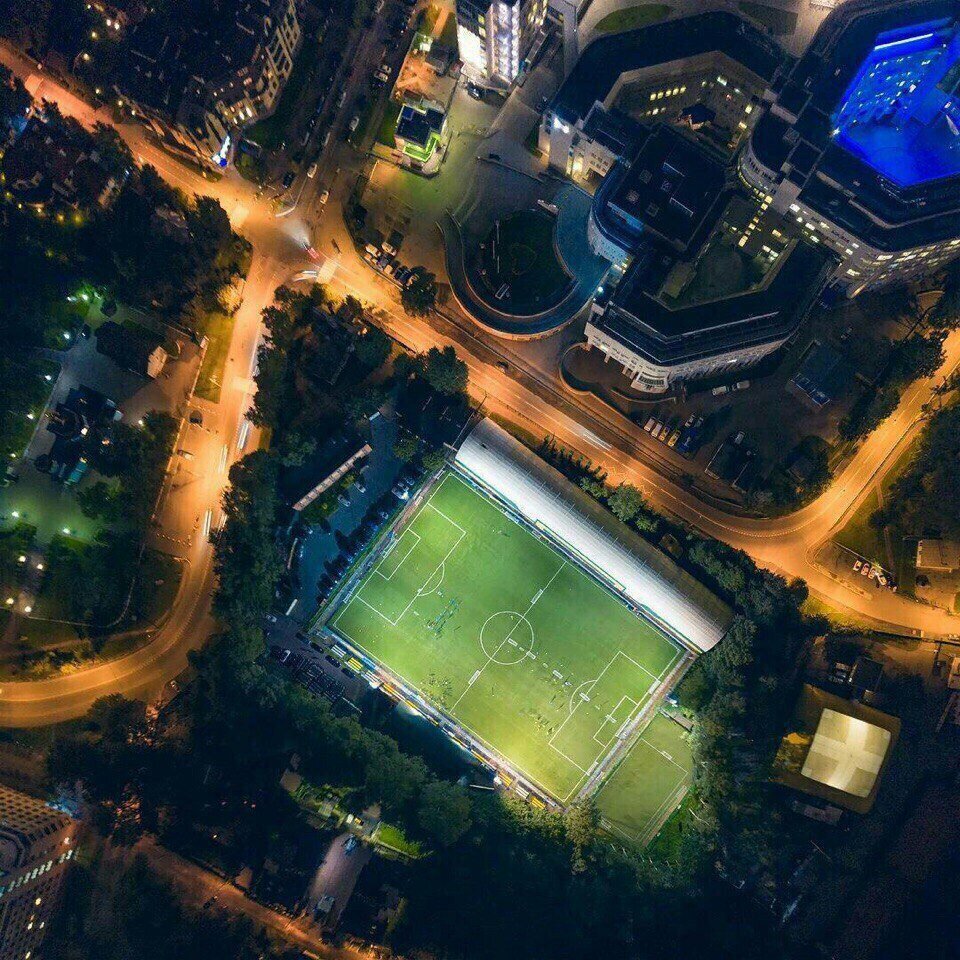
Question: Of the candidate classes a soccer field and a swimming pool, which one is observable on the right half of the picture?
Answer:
soccer field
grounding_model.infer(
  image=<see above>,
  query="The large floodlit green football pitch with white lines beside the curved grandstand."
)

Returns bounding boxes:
[303,448,716,832]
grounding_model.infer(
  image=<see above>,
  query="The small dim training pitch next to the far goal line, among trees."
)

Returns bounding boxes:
[594,712,699,848]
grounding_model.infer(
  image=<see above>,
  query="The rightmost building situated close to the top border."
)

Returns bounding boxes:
[726,0,960,286]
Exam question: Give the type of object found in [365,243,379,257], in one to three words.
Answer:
vehicle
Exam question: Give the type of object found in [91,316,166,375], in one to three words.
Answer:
house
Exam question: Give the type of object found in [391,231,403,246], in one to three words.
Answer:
vehicle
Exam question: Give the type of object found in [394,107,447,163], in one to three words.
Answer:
building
